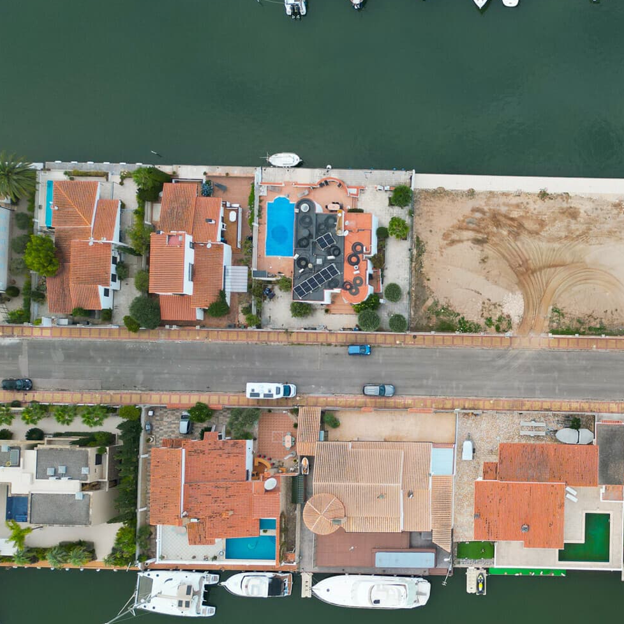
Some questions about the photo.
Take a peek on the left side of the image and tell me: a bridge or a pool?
pool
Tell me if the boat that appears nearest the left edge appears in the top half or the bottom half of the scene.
bottom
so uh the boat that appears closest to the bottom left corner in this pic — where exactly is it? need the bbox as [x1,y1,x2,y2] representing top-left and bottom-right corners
[110,570,222,624]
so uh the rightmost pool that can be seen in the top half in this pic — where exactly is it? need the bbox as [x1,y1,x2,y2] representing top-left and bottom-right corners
[265,195,295,257]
